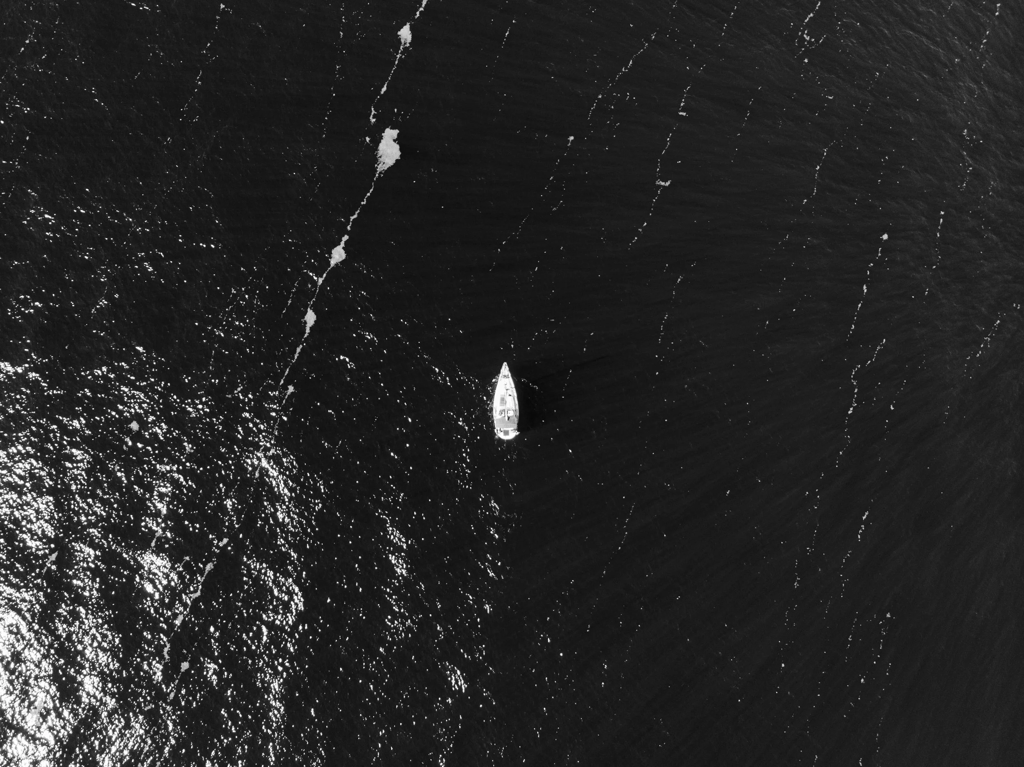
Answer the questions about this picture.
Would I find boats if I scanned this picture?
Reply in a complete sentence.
Yes, there is a boat in the image.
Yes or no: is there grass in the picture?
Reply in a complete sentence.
No, the picture contains no grass.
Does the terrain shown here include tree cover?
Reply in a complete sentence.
No, the picture contains no tree cover.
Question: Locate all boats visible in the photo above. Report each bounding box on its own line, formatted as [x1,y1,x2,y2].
[493,362,519,440]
